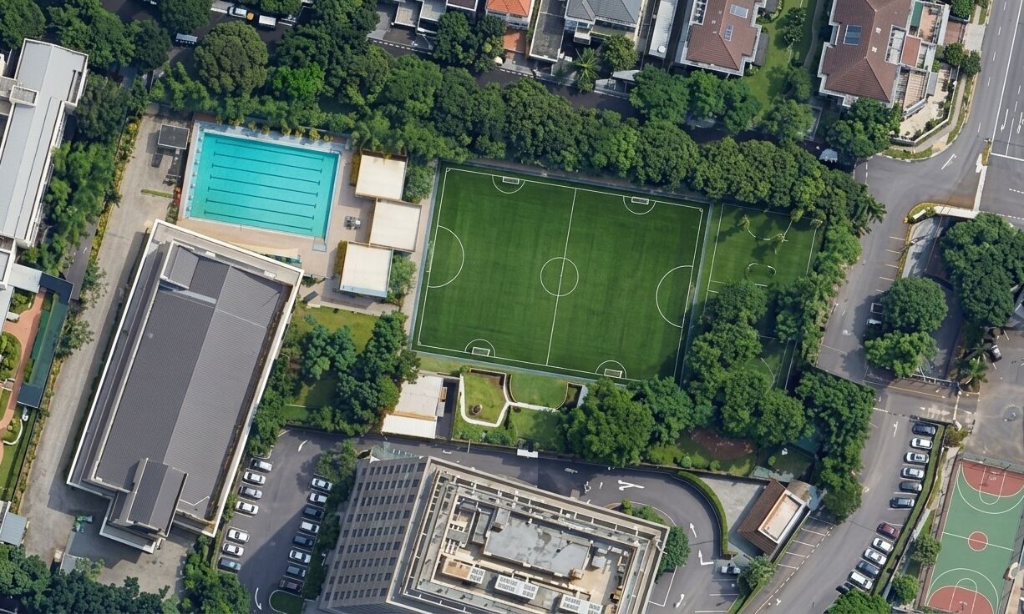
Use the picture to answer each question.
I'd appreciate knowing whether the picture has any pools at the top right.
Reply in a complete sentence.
No, the scene shows no pool at the top right.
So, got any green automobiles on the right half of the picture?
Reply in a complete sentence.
No, no green automobile appears on the right half of the picture.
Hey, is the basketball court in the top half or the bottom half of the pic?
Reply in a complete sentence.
The basketball court sits in the bottom half of the picture.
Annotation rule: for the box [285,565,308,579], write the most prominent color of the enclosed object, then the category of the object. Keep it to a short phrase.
blue car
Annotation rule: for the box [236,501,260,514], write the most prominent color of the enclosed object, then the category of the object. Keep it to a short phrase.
white vehicle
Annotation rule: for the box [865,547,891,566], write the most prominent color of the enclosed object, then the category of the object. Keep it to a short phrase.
white car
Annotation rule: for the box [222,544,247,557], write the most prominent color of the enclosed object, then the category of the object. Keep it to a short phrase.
white vehicle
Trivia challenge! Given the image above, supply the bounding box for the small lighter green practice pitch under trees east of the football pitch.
[695,200,820,397]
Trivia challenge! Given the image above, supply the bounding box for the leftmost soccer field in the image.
[412,162,711,382]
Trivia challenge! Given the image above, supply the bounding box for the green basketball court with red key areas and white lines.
[917,454,1024,614]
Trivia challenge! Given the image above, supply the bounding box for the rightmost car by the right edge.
[990,341,1007,364]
